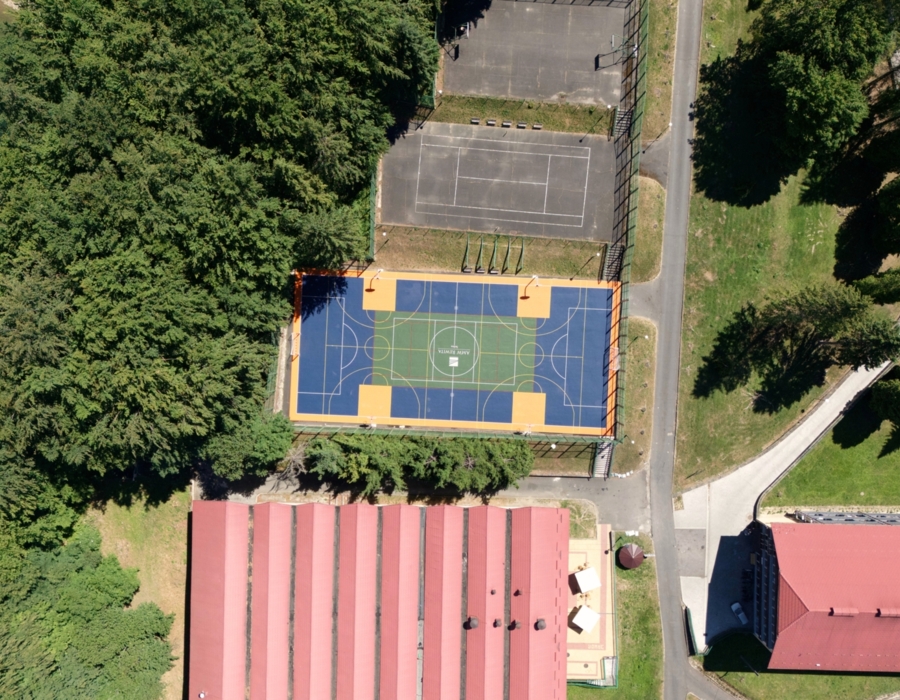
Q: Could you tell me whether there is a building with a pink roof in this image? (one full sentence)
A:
Yes, a building with a pink roof is visible in the scene.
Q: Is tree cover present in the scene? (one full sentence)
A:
Yes, there is tree cover in the image.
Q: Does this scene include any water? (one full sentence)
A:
No, water can't be seen anywhere here.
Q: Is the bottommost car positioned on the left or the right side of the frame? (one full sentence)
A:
The bottommost car sits on the right side.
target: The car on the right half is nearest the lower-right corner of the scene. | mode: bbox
[729,601,751,629]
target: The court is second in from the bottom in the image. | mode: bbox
[379,120,616,241]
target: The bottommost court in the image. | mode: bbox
[290,272,621,437]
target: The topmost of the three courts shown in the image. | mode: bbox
[444,0,626,106]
